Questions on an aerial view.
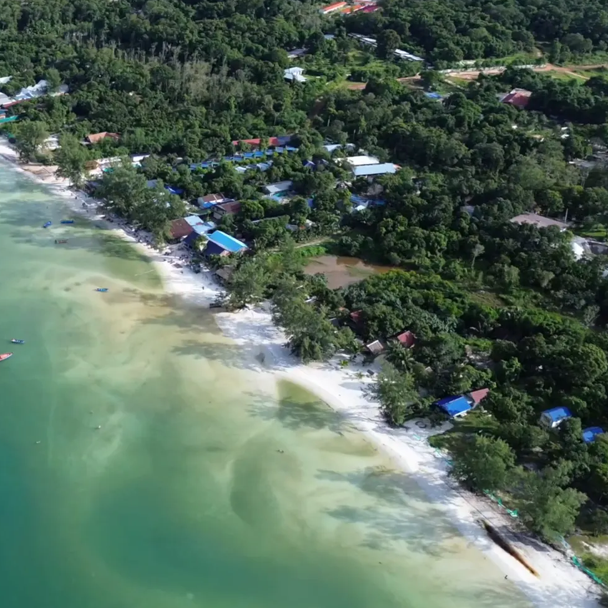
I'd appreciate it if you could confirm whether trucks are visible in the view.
No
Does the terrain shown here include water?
Yes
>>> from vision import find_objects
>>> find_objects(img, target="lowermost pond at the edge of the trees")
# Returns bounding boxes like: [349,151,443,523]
[304,256,403,290]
